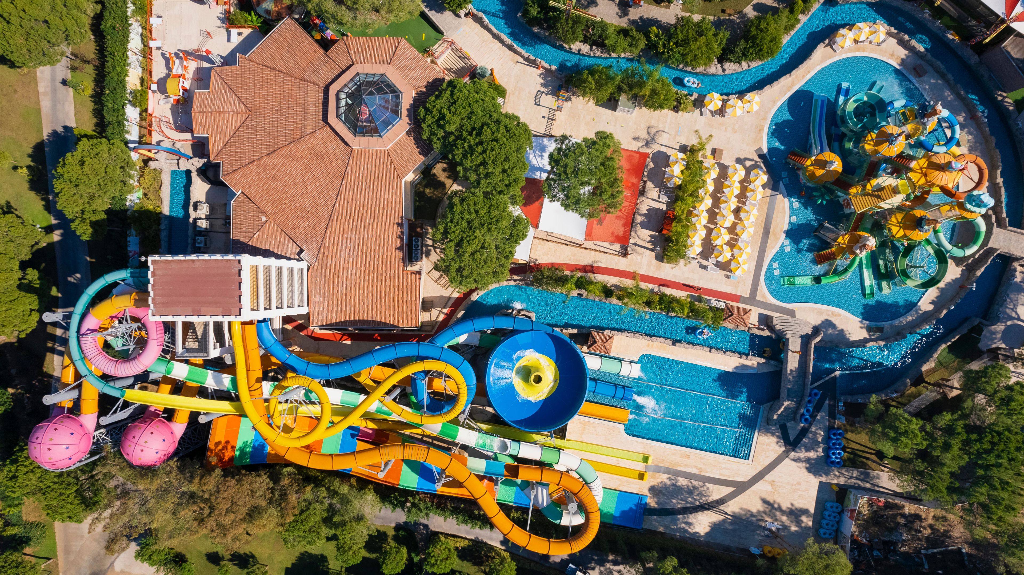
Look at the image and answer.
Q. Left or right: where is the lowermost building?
right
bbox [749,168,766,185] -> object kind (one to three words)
umbrella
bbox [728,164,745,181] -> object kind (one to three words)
umbrella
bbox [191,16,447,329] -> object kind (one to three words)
building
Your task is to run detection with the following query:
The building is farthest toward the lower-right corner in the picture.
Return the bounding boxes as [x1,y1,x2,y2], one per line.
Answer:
[921,373,959,402]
